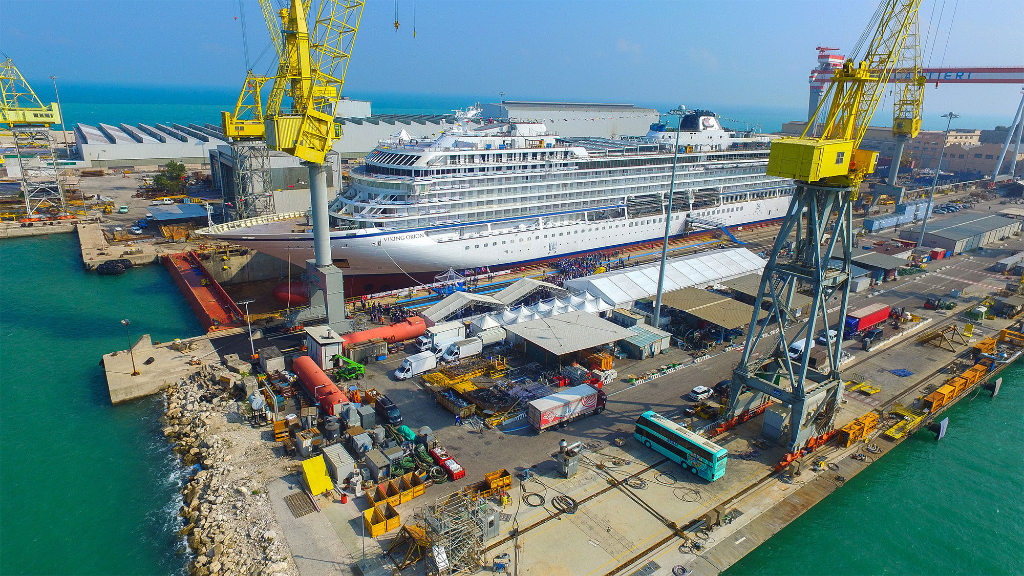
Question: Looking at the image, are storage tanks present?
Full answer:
Yes, looking at the shot, I can spot a storage tank.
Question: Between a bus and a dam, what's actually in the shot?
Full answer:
The one in the frame is a bus.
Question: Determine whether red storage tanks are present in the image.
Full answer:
Yes, you can see a red storage tank in this photo.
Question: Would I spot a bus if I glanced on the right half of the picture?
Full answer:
Yes, you'll find a bus on the right half of the picture.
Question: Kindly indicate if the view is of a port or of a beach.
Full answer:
This looks like a port.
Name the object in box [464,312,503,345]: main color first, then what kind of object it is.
white tent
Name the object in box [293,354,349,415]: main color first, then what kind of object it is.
red storage tank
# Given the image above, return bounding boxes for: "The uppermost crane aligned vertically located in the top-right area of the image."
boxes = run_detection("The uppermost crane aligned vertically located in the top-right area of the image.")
[867,0,948,204]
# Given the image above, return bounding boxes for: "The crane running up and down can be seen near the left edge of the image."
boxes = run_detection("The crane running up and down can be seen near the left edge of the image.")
[0,56,79,222]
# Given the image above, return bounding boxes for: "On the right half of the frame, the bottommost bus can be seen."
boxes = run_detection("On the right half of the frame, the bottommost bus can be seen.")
[632,410,730,481]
